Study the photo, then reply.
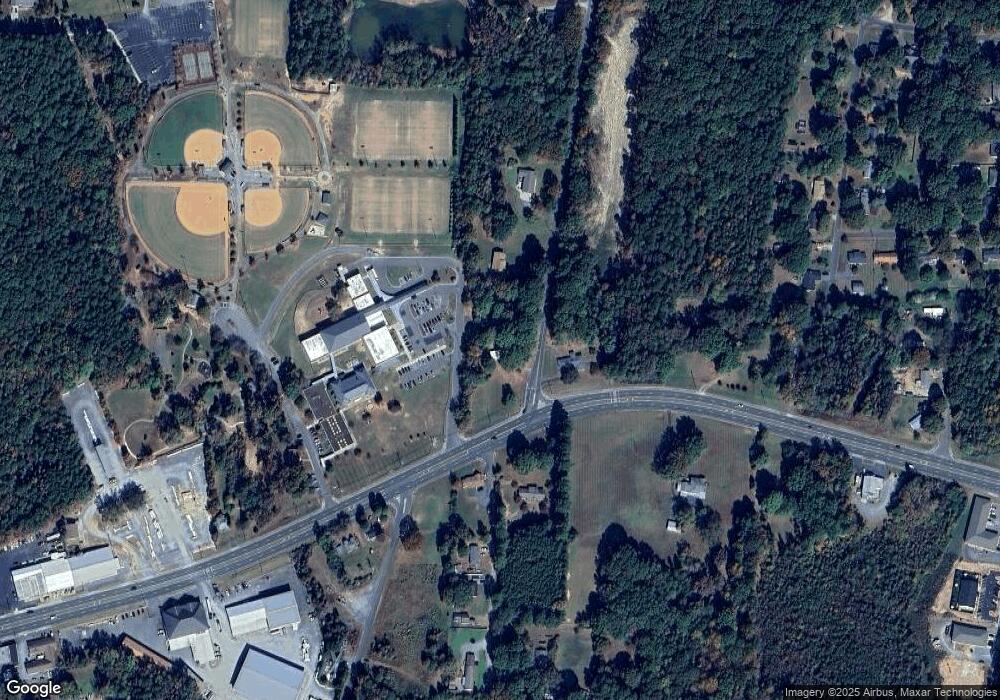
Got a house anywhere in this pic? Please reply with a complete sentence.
Yes, there's a house here.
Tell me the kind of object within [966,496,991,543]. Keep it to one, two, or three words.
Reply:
building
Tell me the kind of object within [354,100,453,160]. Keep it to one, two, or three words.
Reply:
soccer field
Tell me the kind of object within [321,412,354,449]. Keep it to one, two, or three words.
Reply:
building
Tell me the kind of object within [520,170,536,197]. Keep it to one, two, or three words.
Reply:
house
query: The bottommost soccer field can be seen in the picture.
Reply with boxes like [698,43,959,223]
[351,176,451,233]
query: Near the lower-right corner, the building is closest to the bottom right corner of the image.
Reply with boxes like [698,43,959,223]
[950,622,988,646]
